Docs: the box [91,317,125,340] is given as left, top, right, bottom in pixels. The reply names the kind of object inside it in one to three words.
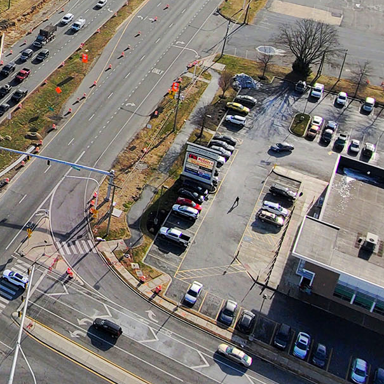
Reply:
car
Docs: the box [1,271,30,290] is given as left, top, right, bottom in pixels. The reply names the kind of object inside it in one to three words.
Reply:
car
